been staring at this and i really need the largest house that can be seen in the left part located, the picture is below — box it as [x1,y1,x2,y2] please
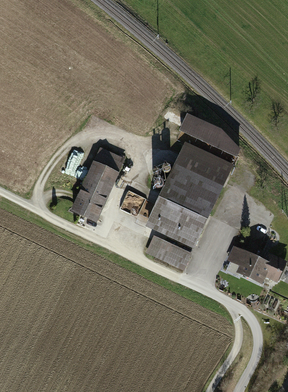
[68,160,118,222]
